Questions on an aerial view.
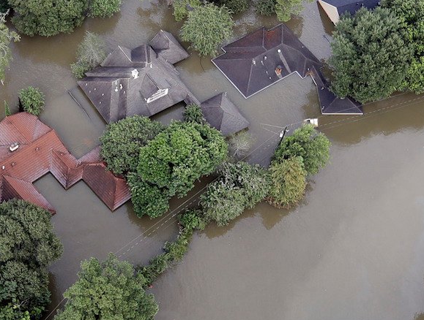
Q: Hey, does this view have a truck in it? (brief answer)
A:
No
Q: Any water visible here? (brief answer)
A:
Yes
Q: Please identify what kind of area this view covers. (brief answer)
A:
residential area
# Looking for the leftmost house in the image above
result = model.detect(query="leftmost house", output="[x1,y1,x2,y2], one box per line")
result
[0,111,131,228]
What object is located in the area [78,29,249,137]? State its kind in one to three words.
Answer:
house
